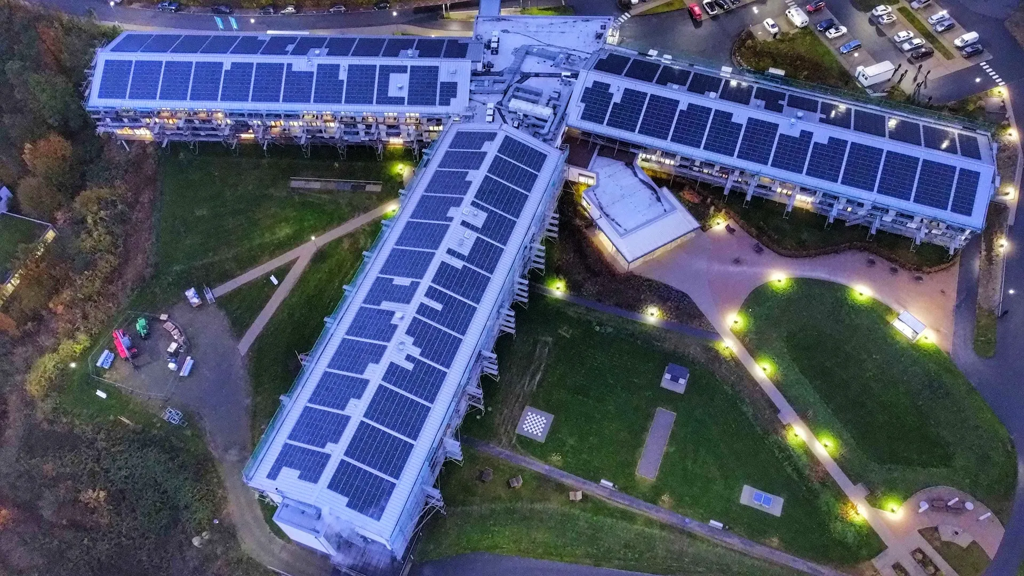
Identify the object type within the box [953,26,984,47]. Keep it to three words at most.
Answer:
car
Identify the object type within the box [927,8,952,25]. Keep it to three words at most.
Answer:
car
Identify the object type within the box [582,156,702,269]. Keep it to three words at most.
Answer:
building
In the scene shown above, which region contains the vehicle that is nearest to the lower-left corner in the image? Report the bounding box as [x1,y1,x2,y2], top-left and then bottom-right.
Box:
[108,323,135,371]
